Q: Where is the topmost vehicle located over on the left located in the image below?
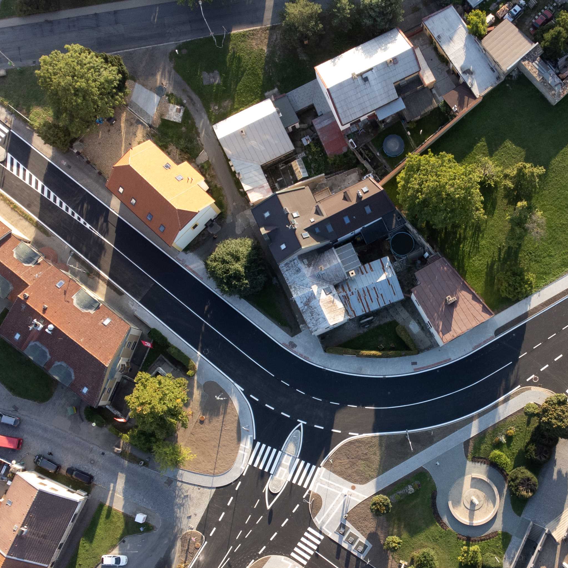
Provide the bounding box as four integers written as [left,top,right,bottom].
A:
[0,411,21,426]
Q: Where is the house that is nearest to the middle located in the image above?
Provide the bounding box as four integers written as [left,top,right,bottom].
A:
[279,247,349,335]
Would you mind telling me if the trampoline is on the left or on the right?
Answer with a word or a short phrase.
right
